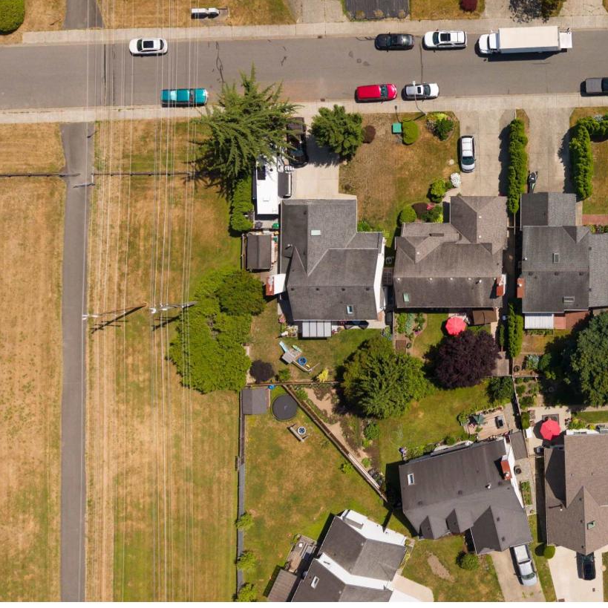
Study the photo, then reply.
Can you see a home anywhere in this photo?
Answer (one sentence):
Yes, a home is visible in the scene.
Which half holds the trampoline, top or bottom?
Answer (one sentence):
You can find the trampoline in the bottom half.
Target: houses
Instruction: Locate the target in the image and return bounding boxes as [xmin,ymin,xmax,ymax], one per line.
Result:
[261,506,411,608]
[389,196,509,309]
[399,435,536,562]
[265,198,388,323]
[516,193,608,314]
[544,426,608,563]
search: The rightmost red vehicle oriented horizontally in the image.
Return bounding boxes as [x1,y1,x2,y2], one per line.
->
[356,84,397,102]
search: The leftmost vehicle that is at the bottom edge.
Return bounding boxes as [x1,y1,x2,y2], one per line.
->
[514,548,536,587]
